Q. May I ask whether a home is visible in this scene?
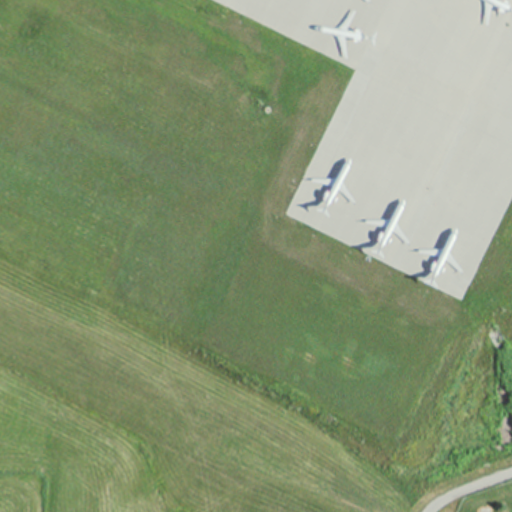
No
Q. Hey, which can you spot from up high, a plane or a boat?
plane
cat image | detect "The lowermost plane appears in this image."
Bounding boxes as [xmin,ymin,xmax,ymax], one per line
[418,230,463,288]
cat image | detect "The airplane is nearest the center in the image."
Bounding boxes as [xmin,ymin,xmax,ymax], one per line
[312,159,356,216]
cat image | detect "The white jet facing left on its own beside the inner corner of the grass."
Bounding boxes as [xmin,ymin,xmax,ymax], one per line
[314,10,375,58]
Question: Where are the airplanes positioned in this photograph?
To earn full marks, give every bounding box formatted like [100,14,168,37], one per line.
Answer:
[314,10,375,58]
[366,200,410,258]
[486,0,512,25]
[418,230,463,288]
[312,159,356,216]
